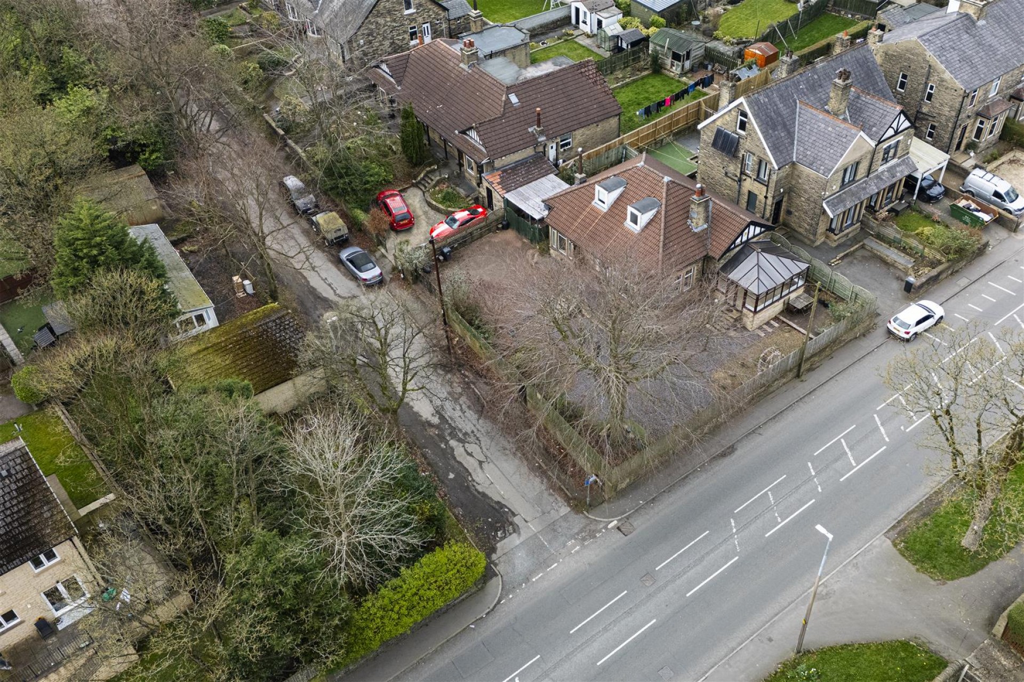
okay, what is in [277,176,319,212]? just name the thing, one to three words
car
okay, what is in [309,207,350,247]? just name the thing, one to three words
vehicle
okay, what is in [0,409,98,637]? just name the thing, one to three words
house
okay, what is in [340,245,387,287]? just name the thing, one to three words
car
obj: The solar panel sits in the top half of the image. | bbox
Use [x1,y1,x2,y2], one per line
[712,127,735,159]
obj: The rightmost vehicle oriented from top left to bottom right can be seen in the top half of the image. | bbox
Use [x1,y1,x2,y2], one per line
[965,164,1024,215]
